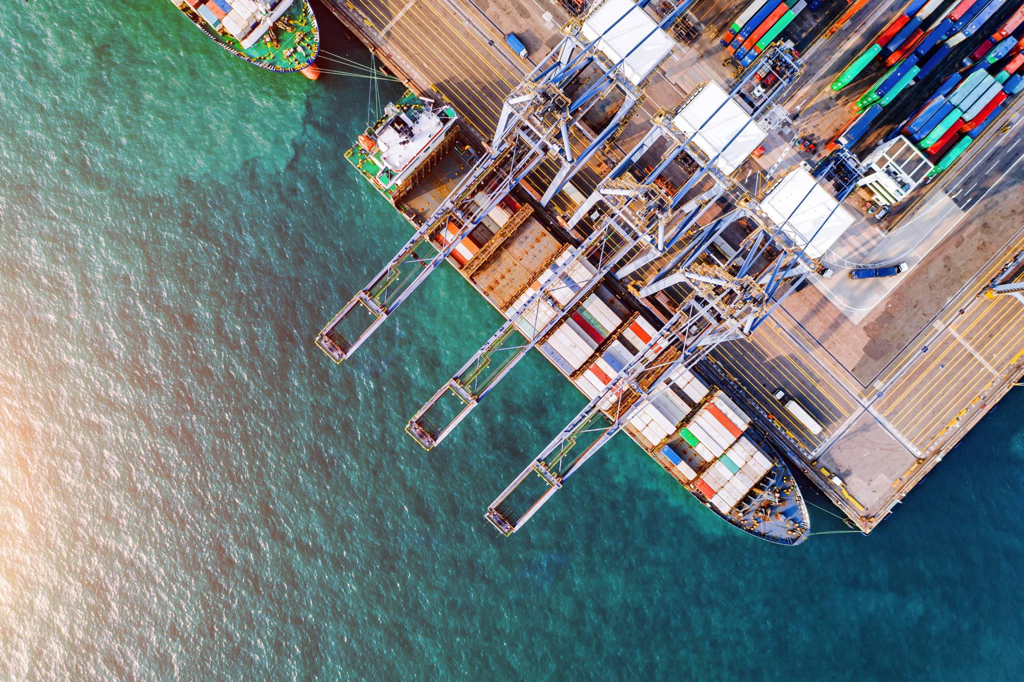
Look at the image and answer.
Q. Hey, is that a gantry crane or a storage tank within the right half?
gantry crane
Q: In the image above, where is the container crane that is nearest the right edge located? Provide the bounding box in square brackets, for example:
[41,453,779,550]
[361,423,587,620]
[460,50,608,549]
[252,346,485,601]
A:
[971,249,1024,306]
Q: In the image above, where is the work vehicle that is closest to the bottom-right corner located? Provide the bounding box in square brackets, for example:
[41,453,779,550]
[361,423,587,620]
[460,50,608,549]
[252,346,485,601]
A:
[825,470,846,490]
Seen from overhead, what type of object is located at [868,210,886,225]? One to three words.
car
